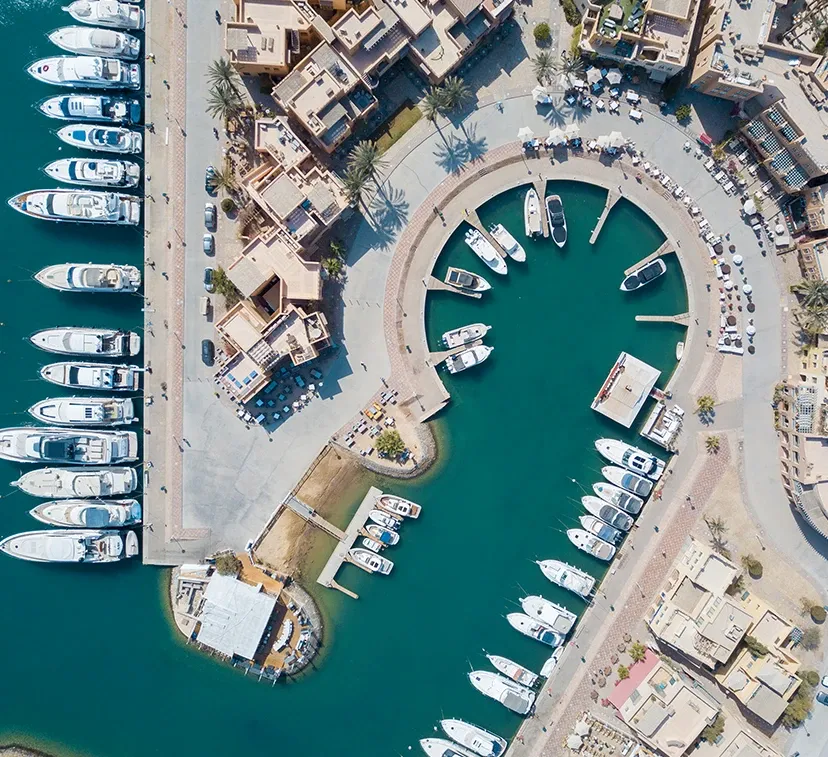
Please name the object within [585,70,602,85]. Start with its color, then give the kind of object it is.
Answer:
white umbrella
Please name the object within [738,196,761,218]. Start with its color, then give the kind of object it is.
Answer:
white umbrella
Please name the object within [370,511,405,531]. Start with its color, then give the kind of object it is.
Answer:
white boat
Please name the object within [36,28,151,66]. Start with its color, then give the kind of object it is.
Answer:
white boat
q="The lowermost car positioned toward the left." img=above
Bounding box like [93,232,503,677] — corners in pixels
[201,339,213,365]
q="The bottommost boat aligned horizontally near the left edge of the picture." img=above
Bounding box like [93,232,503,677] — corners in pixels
[1,530,131,563]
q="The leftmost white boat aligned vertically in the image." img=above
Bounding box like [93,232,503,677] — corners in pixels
[127,530,140,556]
